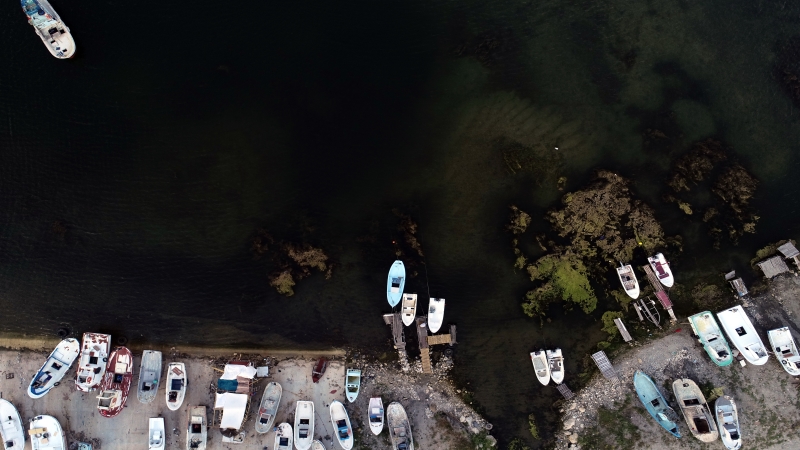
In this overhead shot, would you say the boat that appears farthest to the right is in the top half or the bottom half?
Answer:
bottom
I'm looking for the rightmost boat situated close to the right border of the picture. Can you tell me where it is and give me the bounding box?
[767,324,800,377]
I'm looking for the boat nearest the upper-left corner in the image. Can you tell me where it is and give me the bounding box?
[18,0,74,59]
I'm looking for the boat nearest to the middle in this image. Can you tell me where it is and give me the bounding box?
[387,261,405,308]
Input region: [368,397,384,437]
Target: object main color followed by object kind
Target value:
white boat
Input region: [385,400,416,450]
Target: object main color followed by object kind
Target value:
gray boat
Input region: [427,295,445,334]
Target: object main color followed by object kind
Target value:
white boat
